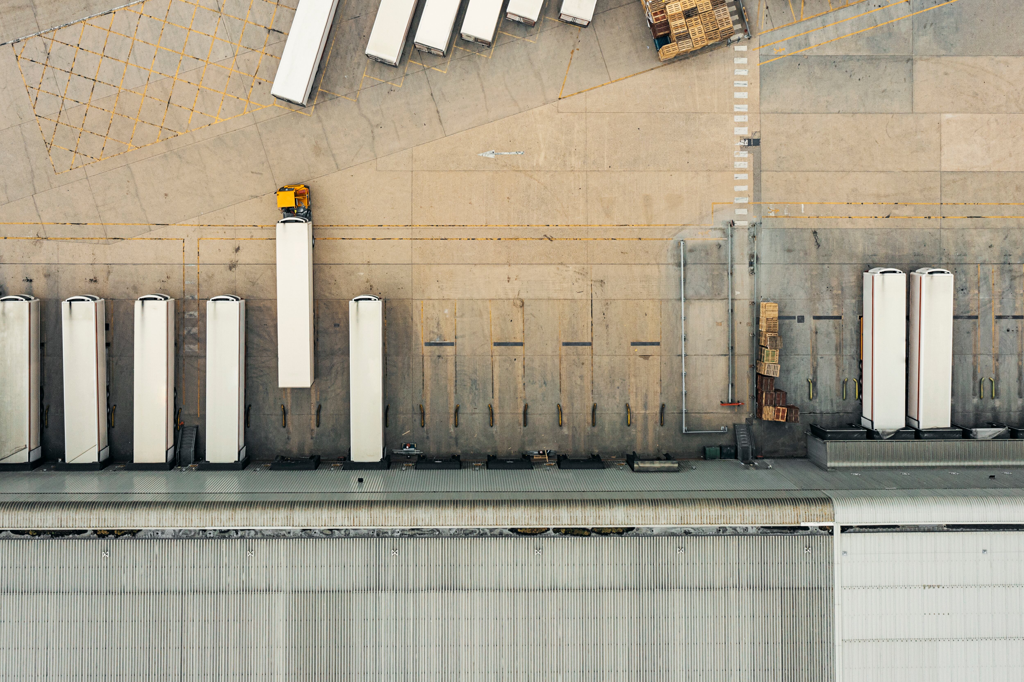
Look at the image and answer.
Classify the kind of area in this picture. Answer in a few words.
industrial area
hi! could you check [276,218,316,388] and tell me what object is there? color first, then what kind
white trailer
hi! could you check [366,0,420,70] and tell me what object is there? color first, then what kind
white trailer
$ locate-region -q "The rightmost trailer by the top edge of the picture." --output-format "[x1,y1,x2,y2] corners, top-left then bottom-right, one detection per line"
[557,0,596,30]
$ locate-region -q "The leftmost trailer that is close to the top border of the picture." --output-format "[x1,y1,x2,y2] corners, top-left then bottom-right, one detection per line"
[271,0,339,109]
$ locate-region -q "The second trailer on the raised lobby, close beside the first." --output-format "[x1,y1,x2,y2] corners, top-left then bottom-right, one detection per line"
[905,269,954,428]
